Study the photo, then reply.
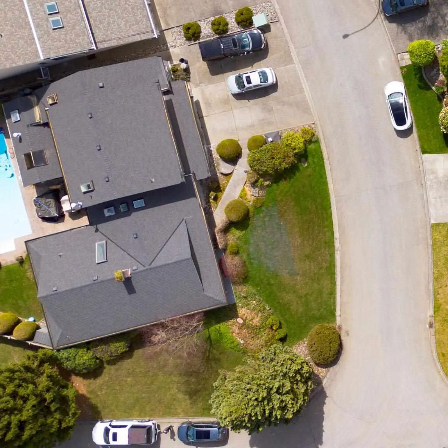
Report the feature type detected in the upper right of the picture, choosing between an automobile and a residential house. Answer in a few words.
automobile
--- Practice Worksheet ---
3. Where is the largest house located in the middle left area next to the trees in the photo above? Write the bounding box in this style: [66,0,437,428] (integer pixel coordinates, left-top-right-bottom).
[2,55,228,349]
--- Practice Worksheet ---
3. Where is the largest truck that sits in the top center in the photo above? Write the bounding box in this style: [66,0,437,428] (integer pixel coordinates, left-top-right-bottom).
[197,30,267,62]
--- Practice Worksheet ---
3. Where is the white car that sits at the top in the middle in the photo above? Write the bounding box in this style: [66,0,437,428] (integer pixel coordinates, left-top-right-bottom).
[227,68,278,94]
